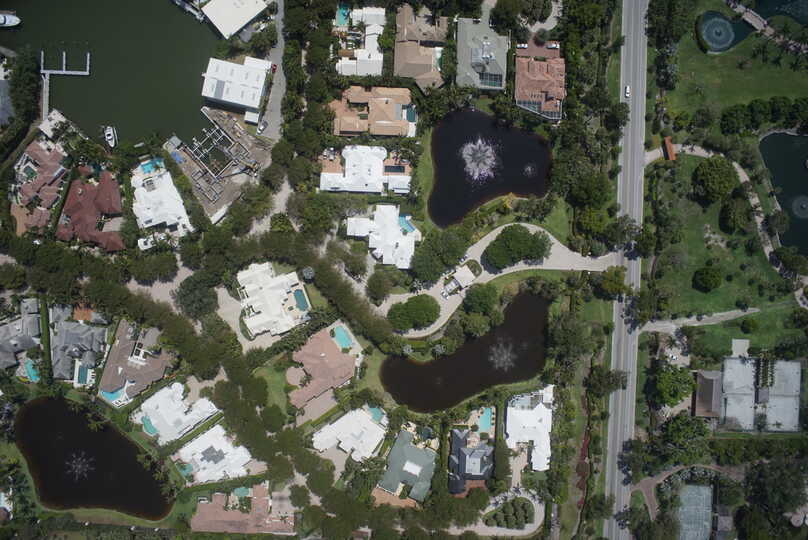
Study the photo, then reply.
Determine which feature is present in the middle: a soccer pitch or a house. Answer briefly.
house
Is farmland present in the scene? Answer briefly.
No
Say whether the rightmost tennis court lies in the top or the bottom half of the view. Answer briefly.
bottom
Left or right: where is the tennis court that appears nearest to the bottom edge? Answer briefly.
right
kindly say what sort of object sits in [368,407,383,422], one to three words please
swimming pool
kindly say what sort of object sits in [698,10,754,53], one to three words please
pond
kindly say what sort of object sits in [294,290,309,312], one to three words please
swimming pool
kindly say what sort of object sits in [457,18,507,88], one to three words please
house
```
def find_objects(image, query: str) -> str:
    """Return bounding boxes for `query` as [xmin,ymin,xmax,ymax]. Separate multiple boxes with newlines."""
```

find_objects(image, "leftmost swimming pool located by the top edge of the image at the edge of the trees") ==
[337,4,350,26]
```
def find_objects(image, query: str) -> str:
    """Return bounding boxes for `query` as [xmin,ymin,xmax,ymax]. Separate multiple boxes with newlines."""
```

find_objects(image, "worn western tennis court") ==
[724,358,754,431]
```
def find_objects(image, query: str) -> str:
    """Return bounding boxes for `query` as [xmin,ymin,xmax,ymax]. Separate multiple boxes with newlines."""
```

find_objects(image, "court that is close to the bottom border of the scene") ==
[679,486,713,540]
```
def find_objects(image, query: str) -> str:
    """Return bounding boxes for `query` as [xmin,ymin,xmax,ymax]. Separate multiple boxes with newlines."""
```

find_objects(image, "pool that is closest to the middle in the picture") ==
[399,214,415,233]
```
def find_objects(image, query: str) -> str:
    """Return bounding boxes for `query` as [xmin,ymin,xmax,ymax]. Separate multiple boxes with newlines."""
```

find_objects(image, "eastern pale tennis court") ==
[769,360,801,432]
